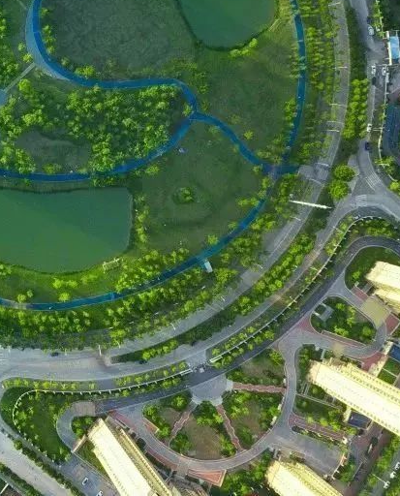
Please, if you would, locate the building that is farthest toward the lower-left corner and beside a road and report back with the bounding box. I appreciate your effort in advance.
[88,419,191,496]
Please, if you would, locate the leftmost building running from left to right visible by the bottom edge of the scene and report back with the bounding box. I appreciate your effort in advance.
[268,463,343,496]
